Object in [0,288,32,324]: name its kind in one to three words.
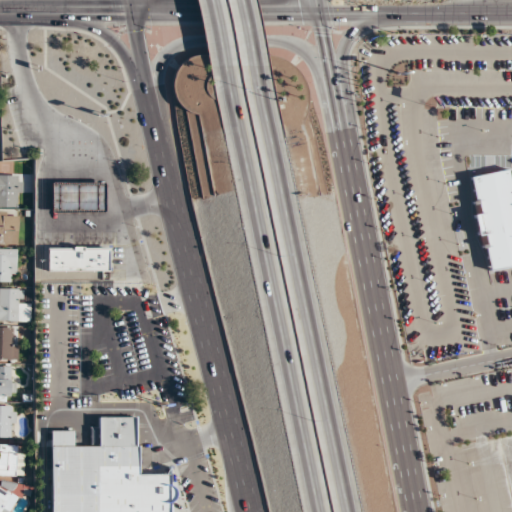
house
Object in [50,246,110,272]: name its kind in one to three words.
building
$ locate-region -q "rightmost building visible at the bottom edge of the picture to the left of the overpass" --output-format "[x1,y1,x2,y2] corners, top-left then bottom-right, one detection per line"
[53,414,178,512]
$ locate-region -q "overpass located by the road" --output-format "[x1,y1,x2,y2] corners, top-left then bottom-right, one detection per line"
[198,0,361,512]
